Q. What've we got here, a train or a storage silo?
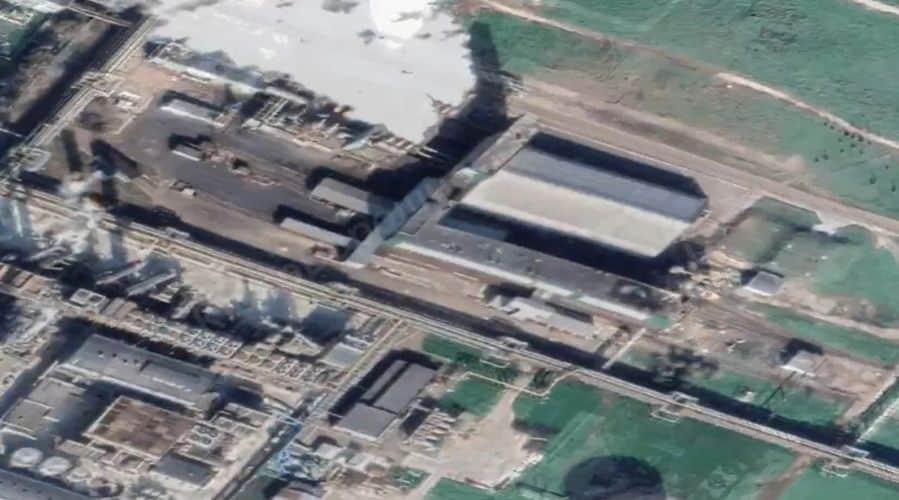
storage silo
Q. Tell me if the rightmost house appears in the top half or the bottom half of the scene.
bottom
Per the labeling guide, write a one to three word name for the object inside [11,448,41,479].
storage tank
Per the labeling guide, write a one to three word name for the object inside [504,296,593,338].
shed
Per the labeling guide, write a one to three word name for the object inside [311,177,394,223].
building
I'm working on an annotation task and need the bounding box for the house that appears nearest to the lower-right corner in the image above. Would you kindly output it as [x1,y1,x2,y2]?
[781,349,823,375]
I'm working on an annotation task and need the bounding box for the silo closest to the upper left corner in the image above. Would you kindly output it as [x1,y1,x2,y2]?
[68,173,88,196]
